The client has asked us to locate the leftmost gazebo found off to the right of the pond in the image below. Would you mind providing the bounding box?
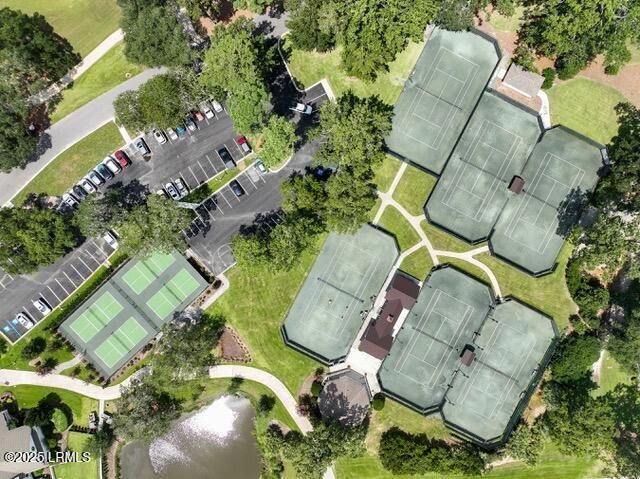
[319,370,374,428]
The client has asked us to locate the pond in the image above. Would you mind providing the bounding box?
[119,394,262,479]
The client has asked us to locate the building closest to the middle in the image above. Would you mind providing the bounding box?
[358,268,421,360]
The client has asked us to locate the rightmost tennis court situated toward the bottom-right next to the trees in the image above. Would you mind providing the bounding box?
[441,294,561,443]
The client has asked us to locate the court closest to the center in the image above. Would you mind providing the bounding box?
[281,213,401,361]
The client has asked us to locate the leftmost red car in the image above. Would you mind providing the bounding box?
[114,150,129,168]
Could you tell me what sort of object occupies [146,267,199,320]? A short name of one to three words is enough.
sports court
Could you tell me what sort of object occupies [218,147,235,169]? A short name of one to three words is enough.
vehicle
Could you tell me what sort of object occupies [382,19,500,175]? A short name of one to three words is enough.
tennis court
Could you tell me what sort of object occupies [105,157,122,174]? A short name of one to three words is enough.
car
